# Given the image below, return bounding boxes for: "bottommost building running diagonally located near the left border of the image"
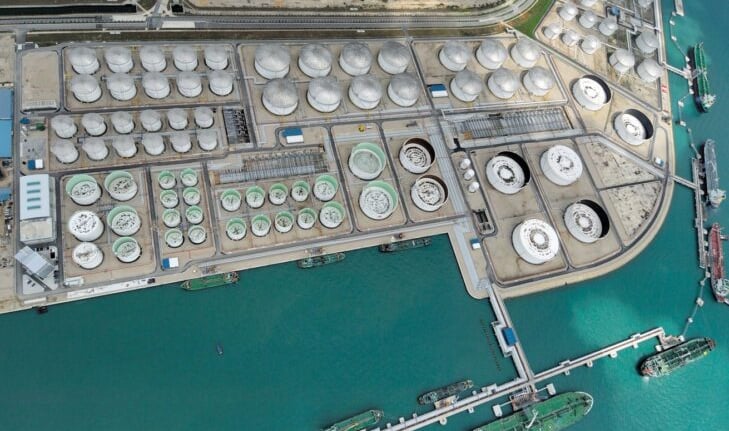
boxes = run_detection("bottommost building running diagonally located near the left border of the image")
[16,246,58,280]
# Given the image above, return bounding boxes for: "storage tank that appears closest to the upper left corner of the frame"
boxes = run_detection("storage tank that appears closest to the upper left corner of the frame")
[69,45,103,75]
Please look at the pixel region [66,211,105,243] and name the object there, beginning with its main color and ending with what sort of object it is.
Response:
white storage tank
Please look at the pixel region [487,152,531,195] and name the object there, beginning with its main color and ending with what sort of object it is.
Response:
white storage tank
